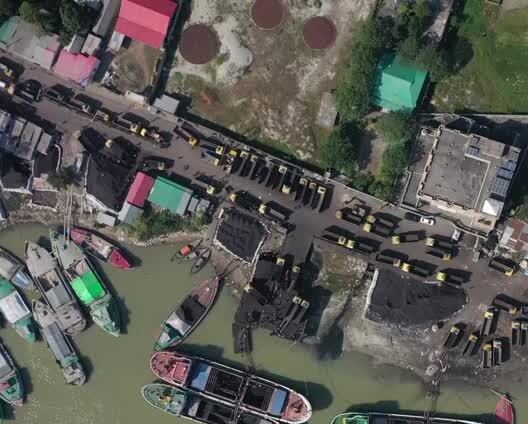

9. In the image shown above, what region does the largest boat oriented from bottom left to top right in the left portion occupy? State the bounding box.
[154,277,219,353]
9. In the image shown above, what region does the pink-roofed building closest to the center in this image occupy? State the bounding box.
[125,171,156,206]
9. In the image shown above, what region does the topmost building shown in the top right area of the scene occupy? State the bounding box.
[372,56,429,114]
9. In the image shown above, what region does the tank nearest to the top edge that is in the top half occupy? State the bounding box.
[251,0,286,29]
